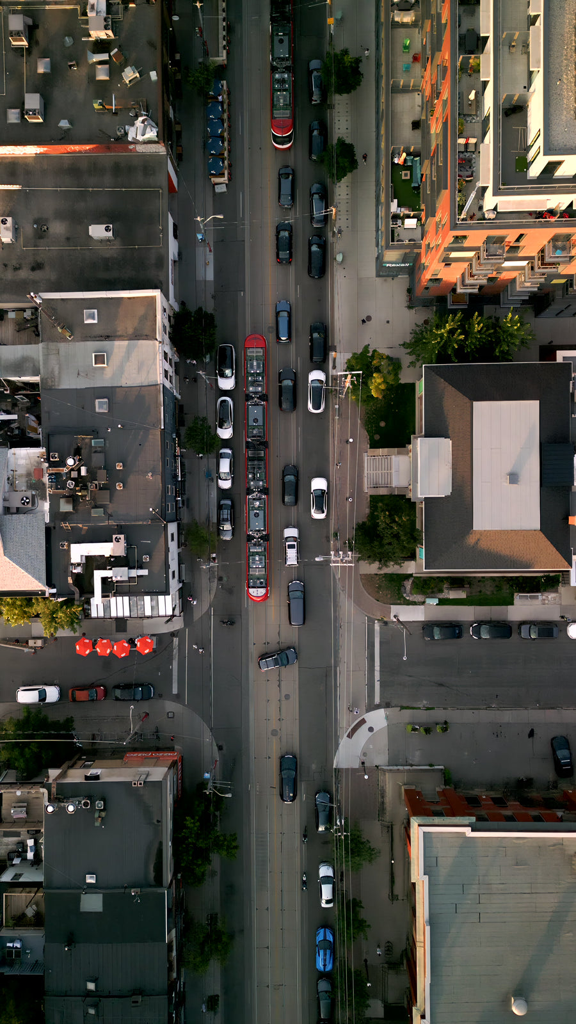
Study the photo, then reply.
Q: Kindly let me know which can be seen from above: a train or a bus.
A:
train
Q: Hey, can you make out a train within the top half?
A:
Yes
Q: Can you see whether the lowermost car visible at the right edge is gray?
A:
No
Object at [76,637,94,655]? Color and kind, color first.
red umbrella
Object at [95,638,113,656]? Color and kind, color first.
red umbrella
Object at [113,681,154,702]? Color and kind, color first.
black car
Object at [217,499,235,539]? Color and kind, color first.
black car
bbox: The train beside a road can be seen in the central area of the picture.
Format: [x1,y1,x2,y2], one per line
[244,336,270,601]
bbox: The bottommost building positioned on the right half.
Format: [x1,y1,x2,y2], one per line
[402,789,576,1024]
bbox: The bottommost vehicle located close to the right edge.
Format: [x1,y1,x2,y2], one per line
[550,734,572,777]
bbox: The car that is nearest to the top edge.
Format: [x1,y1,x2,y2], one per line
[307,63,326,105]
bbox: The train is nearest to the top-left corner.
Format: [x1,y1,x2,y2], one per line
[270,0,294,152]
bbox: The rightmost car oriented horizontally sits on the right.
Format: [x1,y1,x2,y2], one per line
[518,622,557,641]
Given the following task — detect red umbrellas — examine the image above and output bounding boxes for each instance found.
[136,636,154,654]
[95,638,113,656]
[76,637,94,655]
[114,639,131,657]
